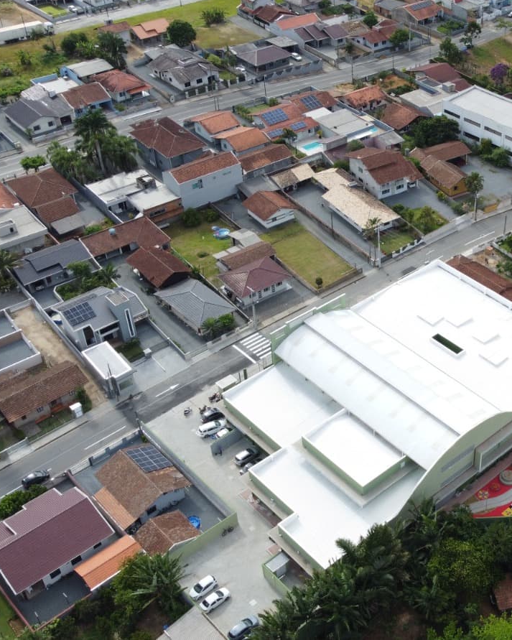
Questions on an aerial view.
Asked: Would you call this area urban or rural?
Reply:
urban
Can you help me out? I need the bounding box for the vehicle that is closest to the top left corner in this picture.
[0,19,52,42]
